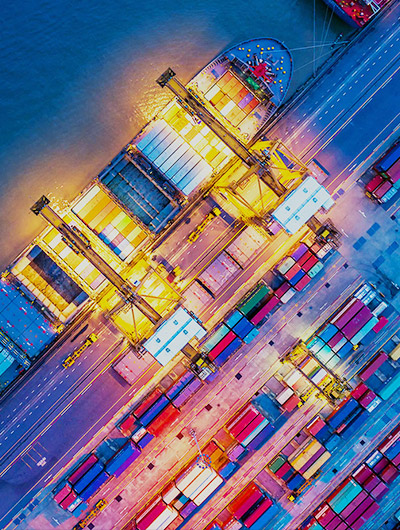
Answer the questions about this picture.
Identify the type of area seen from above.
port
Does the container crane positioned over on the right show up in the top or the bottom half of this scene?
top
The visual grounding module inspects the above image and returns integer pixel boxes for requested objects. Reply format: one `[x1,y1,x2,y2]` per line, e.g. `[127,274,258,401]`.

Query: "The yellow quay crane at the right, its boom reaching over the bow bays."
[156,67,347,243]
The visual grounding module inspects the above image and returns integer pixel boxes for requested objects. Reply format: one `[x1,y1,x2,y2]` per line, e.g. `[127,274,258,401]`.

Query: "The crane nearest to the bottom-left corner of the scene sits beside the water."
[29,195,220,372]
